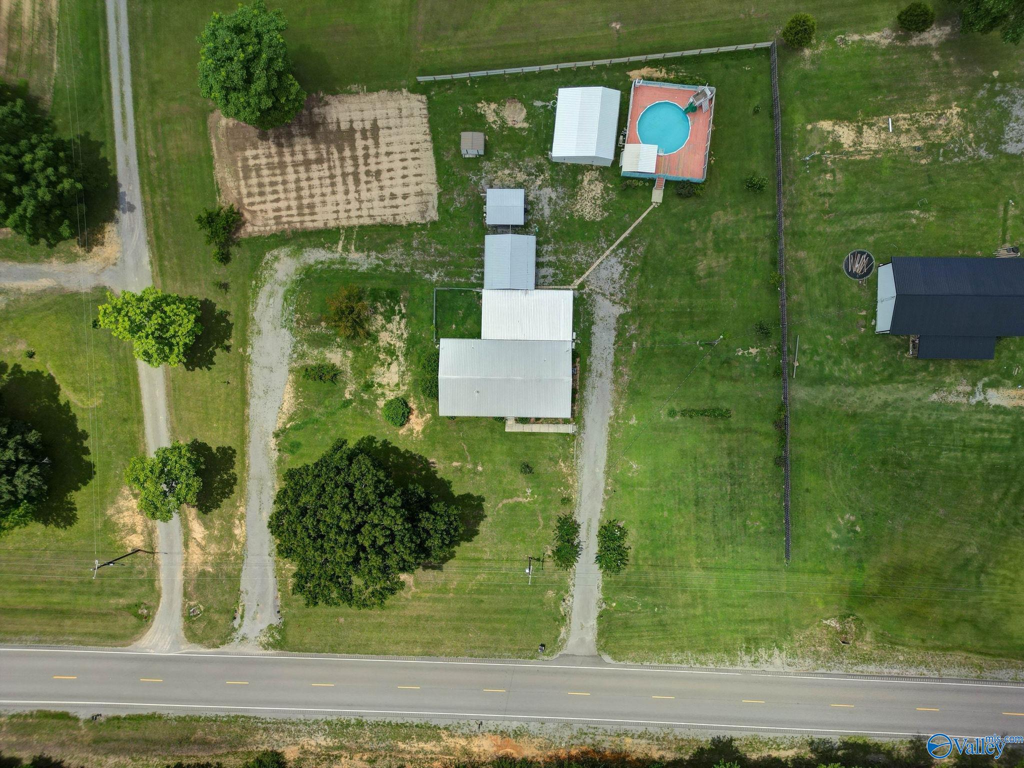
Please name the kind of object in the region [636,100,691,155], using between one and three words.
swimming pool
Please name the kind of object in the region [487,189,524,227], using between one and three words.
shed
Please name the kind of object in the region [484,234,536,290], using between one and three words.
building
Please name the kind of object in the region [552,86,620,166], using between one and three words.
barn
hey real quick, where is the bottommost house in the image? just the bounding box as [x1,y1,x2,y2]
[439,339,573,418]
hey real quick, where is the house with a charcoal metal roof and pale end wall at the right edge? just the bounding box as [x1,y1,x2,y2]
[876,256,1024,360]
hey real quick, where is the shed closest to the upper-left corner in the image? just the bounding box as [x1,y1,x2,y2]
[461,131,484,157]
